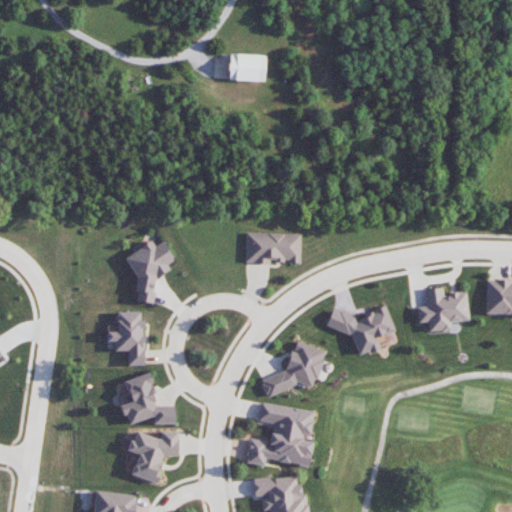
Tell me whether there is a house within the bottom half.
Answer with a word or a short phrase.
Yes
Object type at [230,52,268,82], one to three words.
barn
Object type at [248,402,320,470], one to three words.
house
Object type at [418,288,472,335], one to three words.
house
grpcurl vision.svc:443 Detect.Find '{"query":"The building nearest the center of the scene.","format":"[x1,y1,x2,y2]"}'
[246,233,302,265]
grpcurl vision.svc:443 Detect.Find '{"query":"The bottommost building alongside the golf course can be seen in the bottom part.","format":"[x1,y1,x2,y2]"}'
[249,476,310,512]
